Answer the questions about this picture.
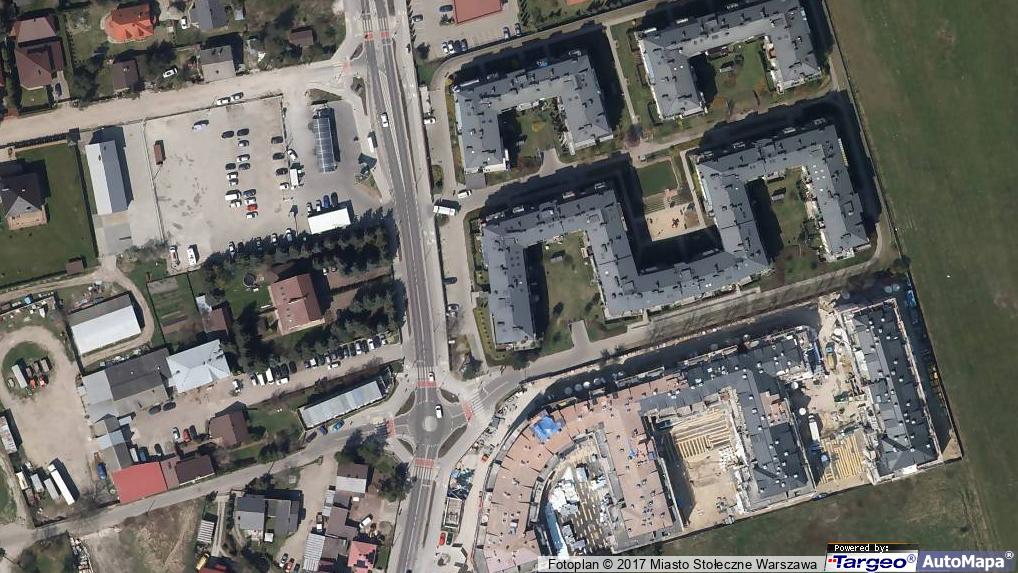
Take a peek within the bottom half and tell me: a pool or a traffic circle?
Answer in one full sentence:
You can see a traffic circle within the bottom half.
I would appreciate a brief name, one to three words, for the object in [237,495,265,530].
house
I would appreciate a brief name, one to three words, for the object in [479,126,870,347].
building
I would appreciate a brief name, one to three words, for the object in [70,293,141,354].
barn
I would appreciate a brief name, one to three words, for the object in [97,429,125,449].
shed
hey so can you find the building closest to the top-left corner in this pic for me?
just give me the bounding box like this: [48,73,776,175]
[16,16,56,44]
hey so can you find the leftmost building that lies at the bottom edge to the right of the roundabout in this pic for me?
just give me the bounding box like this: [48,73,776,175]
[476,366,687,573]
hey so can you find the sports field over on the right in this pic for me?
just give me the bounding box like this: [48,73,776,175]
[636,159,677,198]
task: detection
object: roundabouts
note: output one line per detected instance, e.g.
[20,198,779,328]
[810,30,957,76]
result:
[404,395,456,448]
